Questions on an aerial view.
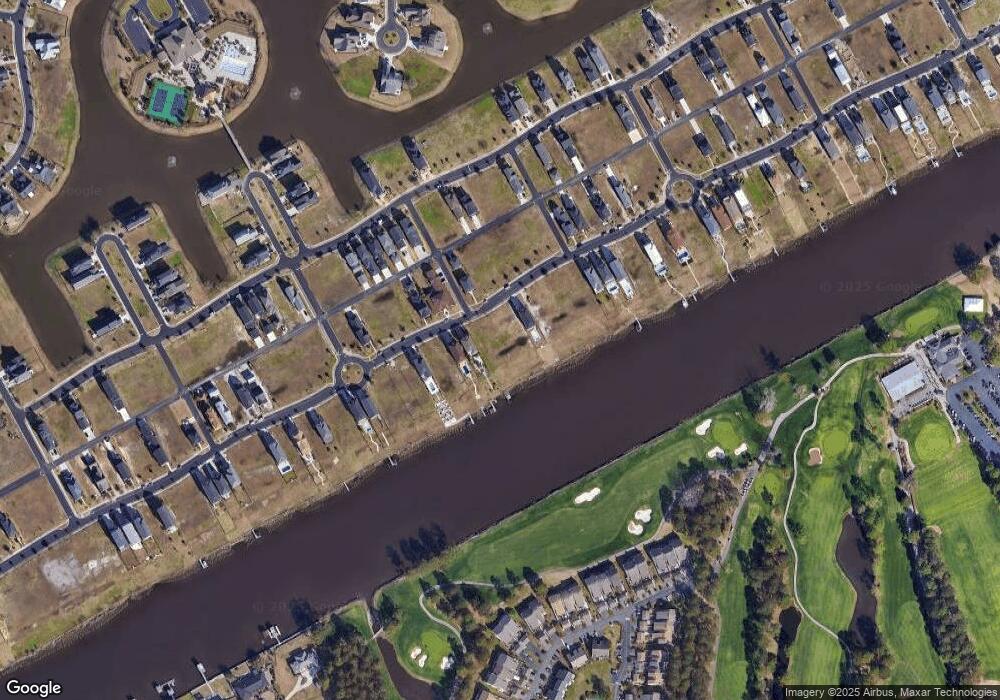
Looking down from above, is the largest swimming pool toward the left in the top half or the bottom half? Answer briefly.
top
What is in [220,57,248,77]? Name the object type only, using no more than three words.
swimming pool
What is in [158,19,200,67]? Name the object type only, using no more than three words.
building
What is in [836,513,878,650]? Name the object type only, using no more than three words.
pond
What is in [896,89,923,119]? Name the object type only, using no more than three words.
house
